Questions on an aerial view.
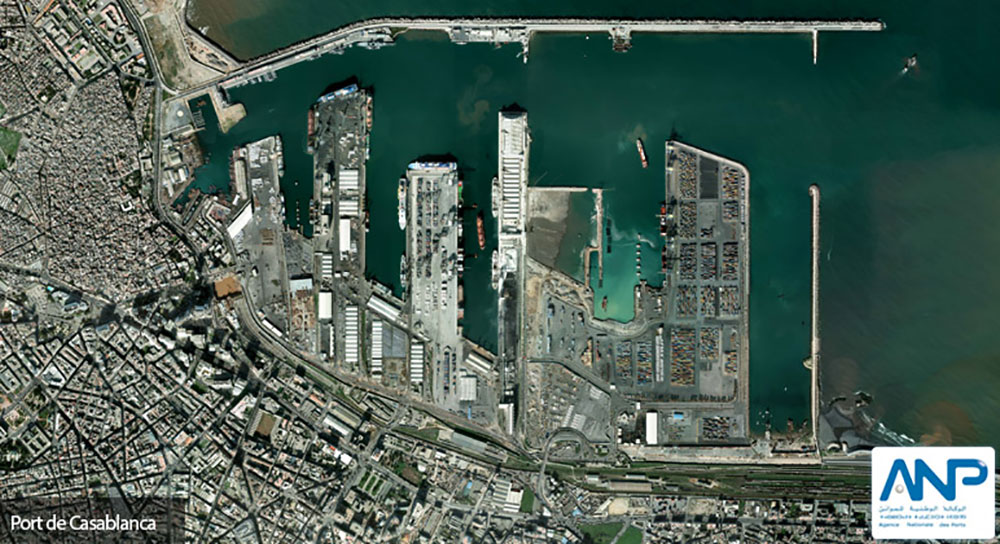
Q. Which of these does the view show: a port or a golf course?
port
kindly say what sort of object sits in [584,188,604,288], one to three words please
pier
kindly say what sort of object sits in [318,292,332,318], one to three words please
building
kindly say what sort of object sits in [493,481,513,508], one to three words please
building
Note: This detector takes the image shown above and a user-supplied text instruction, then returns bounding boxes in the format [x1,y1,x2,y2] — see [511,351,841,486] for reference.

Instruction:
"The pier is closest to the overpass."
[499,111,530,434]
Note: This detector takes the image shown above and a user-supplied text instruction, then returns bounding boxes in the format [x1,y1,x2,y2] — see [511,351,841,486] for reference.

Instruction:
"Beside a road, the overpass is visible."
[538,427,612,508]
